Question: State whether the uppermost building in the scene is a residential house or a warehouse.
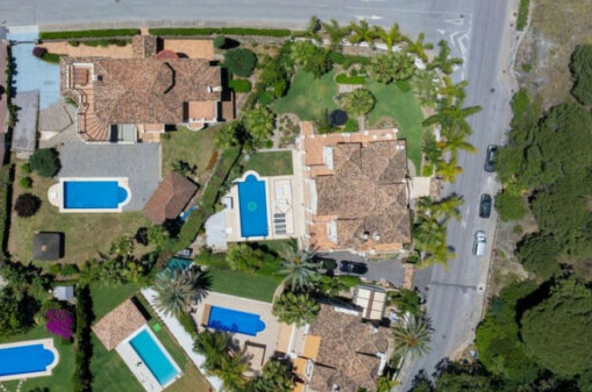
residential house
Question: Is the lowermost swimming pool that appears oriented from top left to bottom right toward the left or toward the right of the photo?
left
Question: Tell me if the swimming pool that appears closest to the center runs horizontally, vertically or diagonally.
vertically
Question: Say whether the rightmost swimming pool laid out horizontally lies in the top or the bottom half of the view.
bottom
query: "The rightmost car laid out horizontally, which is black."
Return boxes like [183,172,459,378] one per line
[340,262,368,275]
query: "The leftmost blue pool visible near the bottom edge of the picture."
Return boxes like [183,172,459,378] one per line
[0,338,59,380]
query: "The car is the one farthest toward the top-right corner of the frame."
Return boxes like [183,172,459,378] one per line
[482,144,498,172]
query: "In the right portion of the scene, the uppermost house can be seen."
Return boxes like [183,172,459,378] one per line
[299,123,412,256]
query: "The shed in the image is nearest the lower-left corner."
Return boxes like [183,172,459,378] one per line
[54,287,73,304]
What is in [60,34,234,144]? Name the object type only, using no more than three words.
house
